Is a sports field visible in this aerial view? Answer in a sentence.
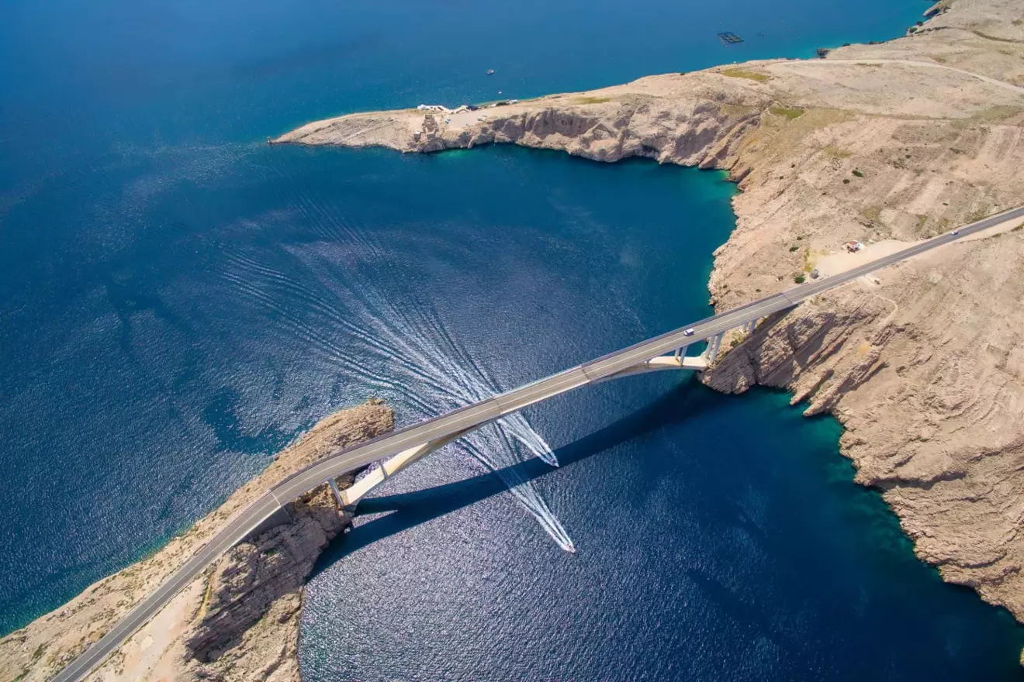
No, this view has no sports field in it.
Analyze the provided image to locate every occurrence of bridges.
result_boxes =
[189,283,817,582]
